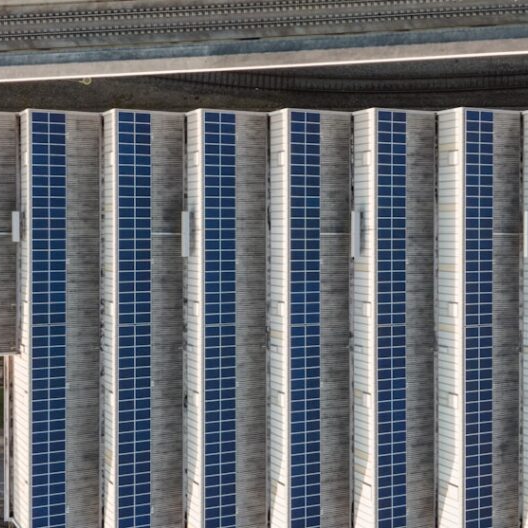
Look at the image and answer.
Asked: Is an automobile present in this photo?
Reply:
No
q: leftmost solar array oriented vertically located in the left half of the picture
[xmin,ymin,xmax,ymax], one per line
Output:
[31,111,69,528]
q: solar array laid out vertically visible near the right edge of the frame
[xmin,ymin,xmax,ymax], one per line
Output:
[466,110,521,528]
